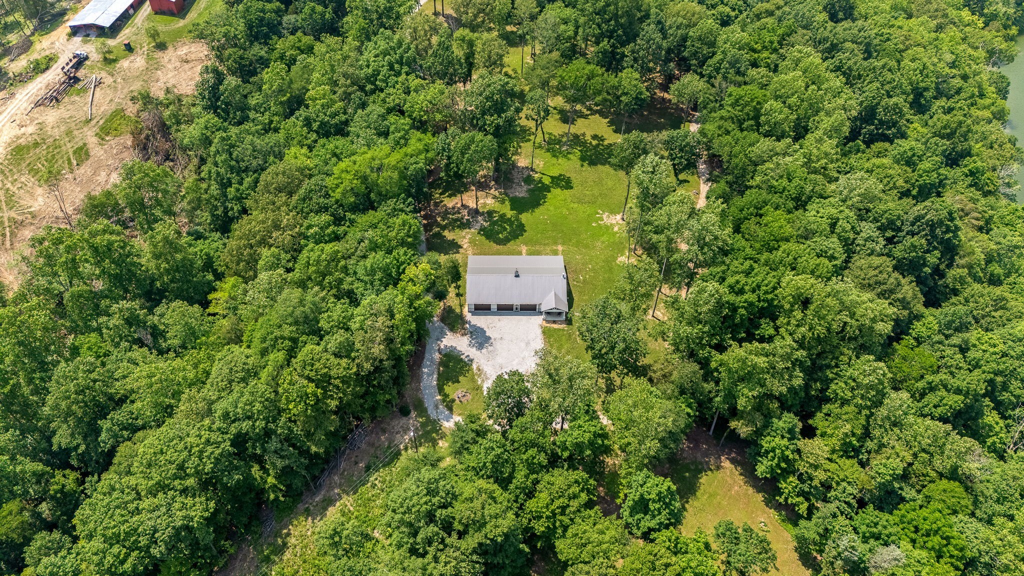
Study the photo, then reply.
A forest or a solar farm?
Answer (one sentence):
What you see here is a forest.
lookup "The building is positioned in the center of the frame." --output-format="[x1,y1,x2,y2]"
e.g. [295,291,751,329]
[466,255,568,323]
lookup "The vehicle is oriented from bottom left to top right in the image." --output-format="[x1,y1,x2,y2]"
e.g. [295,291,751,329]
[57,52,90,78]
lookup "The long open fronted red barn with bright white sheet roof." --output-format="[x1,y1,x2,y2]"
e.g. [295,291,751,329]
[64,0,145,40]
